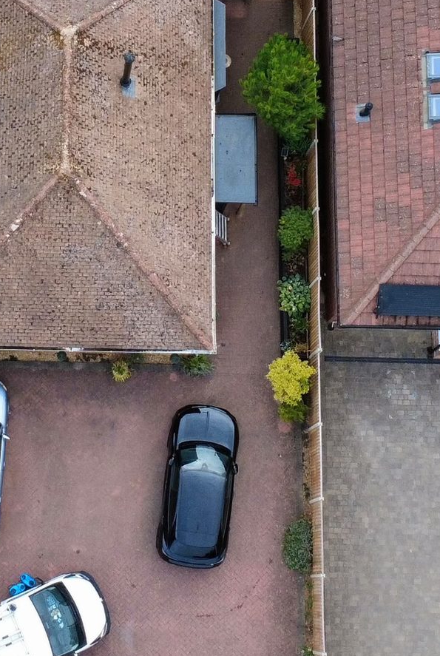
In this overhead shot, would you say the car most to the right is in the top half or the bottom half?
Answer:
bottom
